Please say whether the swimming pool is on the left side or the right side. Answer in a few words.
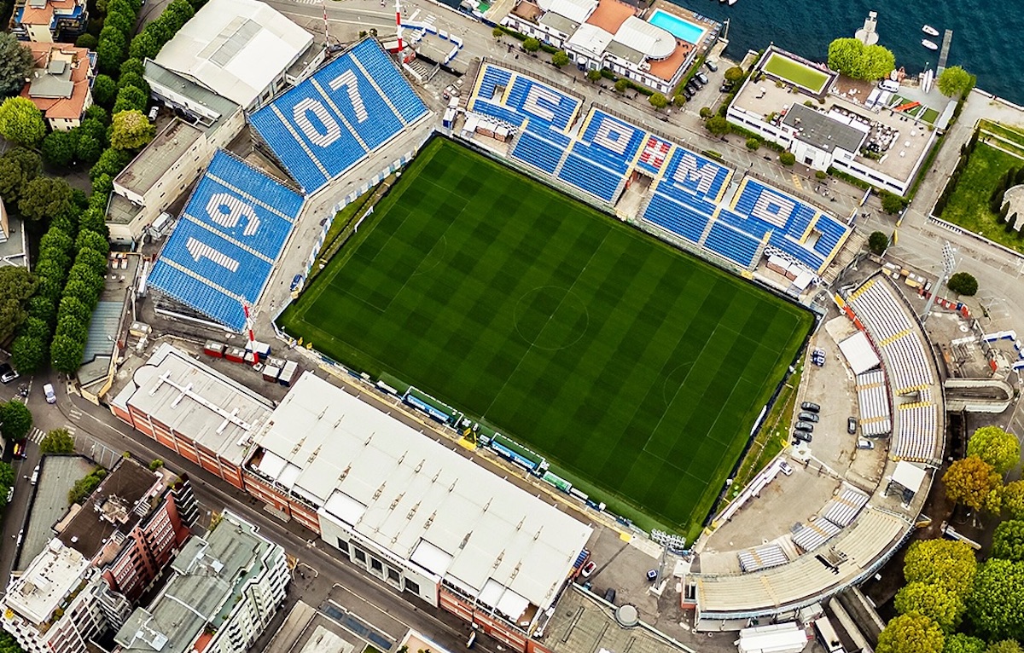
right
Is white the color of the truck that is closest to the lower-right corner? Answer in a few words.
Yes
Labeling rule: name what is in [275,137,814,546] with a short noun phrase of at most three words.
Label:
soccer field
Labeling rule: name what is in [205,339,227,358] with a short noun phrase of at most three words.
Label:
building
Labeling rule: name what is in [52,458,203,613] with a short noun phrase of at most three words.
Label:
building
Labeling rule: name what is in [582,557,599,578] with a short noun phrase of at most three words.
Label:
car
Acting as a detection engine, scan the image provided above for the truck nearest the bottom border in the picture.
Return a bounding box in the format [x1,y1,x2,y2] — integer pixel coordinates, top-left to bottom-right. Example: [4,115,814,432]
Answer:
[812,611,849,653]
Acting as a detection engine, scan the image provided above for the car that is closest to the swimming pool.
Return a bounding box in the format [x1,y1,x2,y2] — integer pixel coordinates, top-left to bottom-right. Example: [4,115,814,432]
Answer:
[704,57,720,71]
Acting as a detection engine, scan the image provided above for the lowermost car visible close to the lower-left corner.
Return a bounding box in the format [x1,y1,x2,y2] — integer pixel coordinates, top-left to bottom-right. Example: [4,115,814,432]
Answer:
[13,526,26,546]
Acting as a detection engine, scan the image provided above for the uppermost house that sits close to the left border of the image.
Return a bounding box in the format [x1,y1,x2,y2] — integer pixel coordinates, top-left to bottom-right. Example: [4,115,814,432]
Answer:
[15,0,91,46]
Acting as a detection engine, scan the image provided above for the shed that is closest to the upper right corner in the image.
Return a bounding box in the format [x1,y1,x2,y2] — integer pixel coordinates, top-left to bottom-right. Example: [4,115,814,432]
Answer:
[936,100,958,134]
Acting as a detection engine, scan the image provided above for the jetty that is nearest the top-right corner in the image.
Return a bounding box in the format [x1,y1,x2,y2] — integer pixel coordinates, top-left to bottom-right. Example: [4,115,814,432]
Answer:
[937,27,953,77]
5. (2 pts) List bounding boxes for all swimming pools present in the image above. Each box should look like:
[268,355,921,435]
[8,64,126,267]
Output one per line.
[648,0,721,54]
